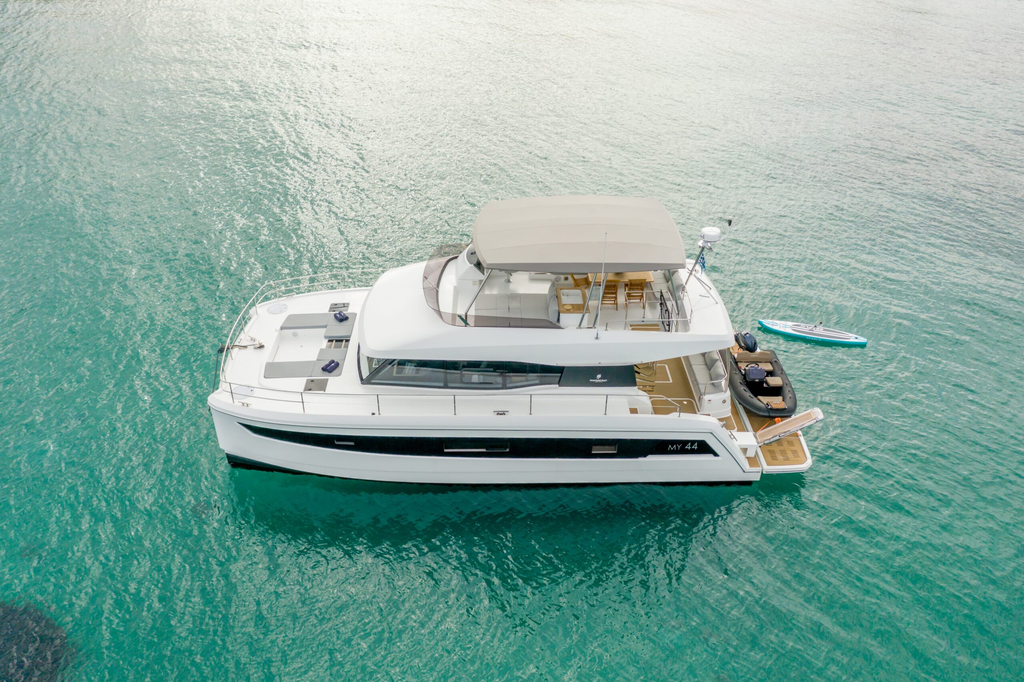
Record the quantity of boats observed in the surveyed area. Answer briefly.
2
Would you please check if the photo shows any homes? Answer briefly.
No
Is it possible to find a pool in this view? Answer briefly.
No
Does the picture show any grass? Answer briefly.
No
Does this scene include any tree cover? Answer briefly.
No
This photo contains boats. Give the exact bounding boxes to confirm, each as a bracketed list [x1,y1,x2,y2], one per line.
[207,199,812,485]
[719,322,799,420]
